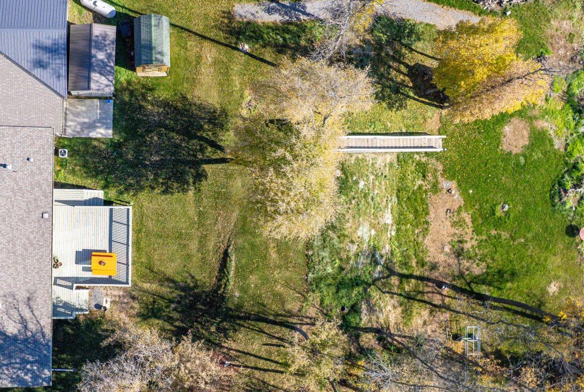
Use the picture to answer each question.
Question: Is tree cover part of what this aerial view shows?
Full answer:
Yes, the picture does contain tree cover.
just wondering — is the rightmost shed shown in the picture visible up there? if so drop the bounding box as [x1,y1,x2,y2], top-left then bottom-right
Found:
[133,14,170,77]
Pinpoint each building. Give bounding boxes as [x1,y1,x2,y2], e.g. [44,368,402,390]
[133,14,170,77]
[70,23,115,97]
[0,49,76,388]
